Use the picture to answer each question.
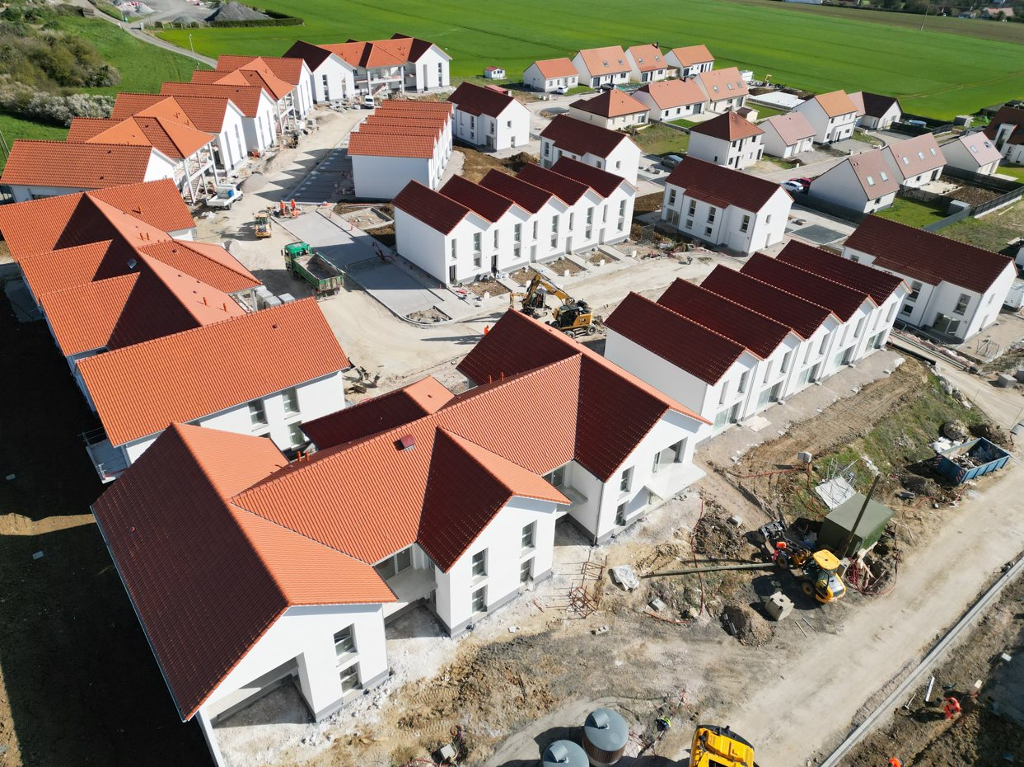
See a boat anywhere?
No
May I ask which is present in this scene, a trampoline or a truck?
truck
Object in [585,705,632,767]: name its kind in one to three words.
water tank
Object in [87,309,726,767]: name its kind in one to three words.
building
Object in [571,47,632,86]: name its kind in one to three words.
house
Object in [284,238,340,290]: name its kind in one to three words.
truck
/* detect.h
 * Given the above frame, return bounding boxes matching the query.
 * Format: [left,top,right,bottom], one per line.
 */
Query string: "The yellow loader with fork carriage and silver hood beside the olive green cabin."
[760,535,849,605]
